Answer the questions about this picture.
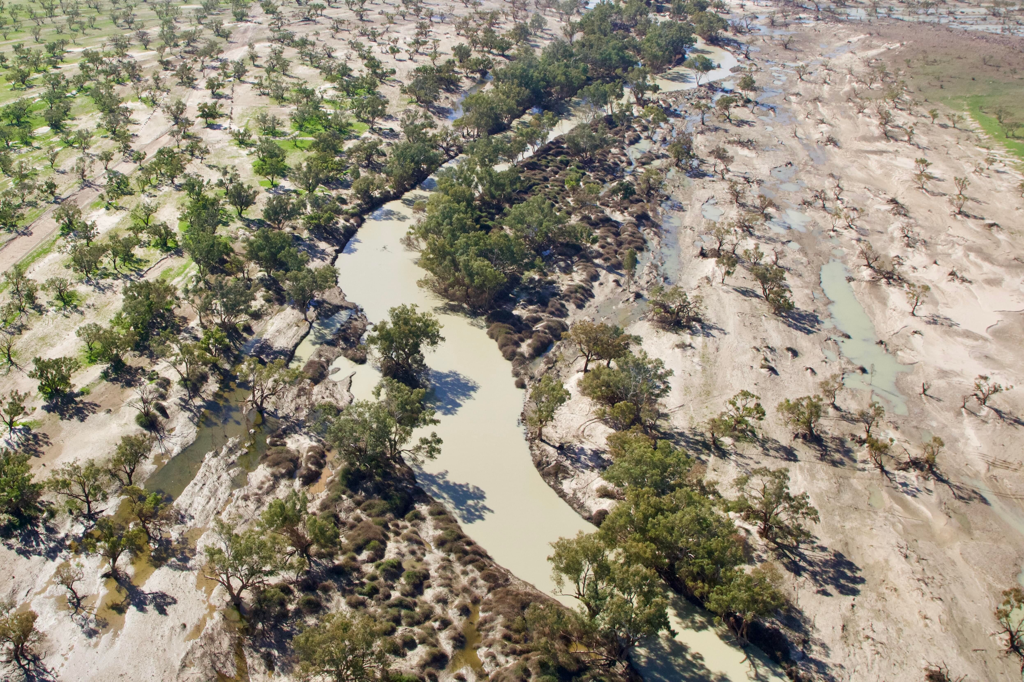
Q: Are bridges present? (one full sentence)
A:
No, there isn't any bridge down there.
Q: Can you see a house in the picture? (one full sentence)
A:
No, the photo shows no house.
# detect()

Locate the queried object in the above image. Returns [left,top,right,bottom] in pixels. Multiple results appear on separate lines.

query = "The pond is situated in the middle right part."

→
[818,257,916,418]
